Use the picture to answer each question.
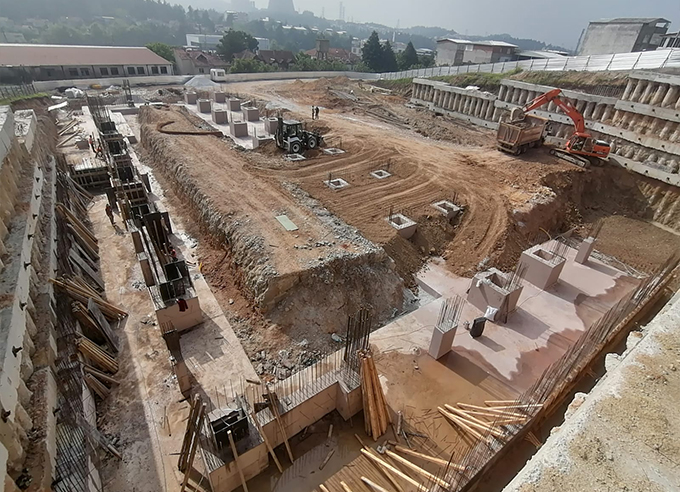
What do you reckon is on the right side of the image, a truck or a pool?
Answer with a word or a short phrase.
truck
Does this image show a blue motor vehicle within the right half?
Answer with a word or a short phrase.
No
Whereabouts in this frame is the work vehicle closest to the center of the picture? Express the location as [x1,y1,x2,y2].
[272,118,329,152]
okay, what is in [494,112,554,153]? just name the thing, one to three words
truck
